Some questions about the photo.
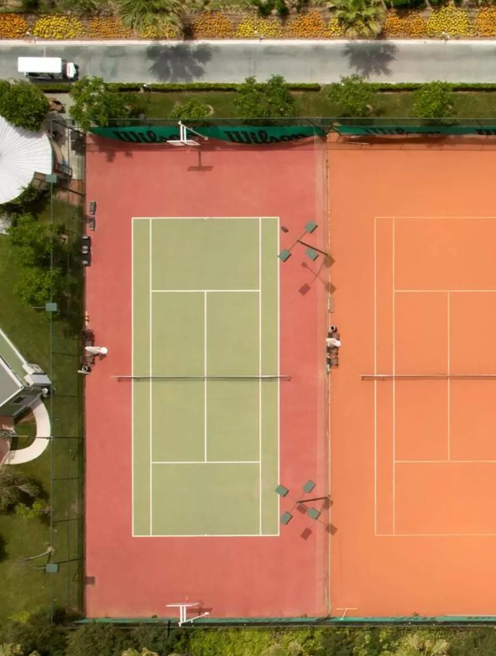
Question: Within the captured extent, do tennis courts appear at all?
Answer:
Yes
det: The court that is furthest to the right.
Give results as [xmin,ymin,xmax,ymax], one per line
[329,135,496,615]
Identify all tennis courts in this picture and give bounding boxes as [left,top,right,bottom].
[329,135,496,615]
[85,135,329,616]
